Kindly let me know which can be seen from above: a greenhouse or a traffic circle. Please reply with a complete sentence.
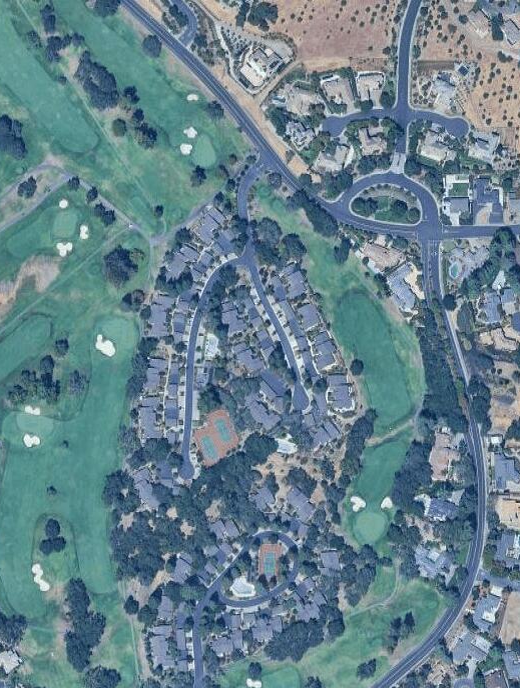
Of the two, only a traffic circle appears.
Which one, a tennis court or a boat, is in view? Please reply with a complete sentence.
The one in the frame is a tennis court.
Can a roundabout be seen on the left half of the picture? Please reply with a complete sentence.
No, there is no roundabout on the left half of the picture.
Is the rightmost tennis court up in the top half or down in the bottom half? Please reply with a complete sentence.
The rightmost tennis court is in the bottom half of the image.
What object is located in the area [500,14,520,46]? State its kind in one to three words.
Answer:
house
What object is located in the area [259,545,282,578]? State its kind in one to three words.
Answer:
tennis court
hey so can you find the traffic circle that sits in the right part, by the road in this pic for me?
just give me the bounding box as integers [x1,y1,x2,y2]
[336,171,435,230]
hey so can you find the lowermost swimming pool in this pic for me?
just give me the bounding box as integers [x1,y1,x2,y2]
[232,577,251,595]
